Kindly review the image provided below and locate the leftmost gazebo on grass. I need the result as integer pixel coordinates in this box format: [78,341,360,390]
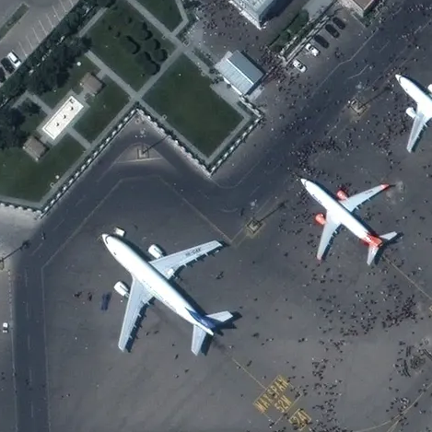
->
[24,136,45,162]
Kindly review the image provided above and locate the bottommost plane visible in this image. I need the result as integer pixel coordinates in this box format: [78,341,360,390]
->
[103,233,234,353]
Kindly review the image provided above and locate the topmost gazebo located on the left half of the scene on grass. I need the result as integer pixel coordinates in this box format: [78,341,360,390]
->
[82,71,103,96]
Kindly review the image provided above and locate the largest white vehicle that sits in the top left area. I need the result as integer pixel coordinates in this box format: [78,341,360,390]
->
[6,52,22,68]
